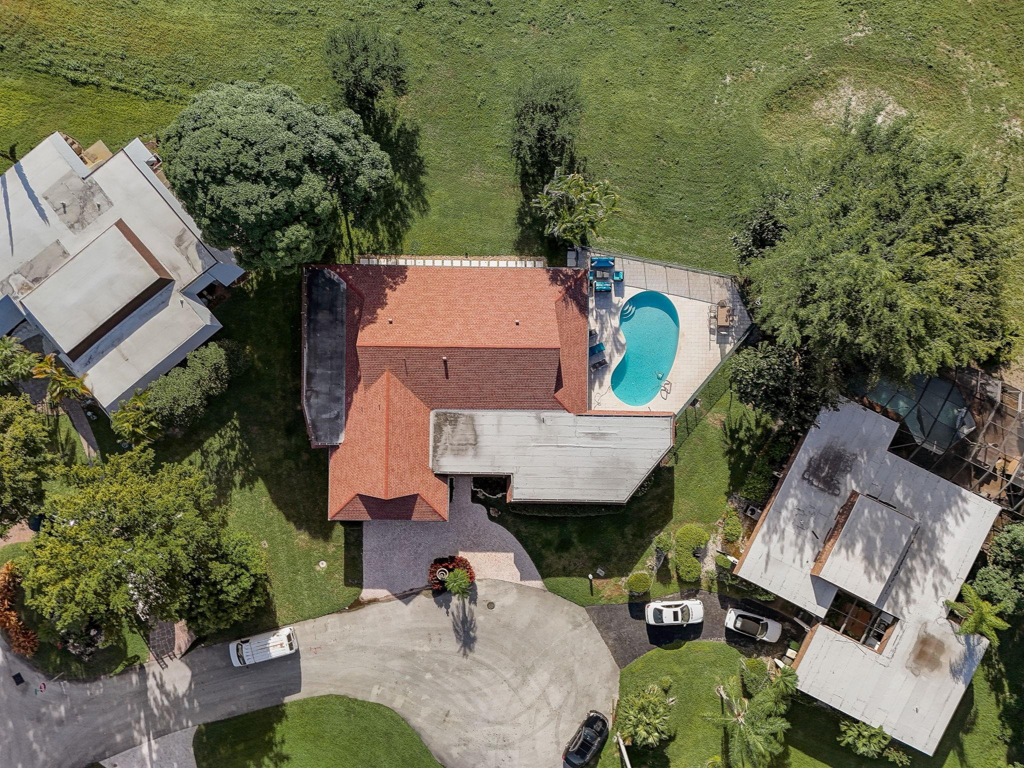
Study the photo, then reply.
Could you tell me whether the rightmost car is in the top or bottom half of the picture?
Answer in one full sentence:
Seen from above, the rightmost car lies in the bottom half of the view.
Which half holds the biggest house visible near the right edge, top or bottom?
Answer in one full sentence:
You can find the biggest house visible near the right edge in the bottom half.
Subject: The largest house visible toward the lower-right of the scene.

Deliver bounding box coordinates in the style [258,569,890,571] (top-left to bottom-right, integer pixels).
[732,395,1001,756]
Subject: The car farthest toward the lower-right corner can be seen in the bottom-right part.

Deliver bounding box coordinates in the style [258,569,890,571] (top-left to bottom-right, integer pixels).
[724,605,782,644]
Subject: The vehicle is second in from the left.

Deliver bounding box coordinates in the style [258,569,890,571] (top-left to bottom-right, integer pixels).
[562,709,607,768]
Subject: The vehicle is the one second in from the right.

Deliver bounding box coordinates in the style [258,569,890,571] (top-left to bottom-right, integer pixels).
[644,599,703,628]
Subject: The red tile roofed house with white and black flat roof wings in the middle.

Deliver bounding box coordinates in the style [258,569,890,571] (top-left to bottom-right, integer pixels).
[301,266,676,522]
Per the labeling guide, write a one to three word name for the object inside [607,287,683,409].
swimming pool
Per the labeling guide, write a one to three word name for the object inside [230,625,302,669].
van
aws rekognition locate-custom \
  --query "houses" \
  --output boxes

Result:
[301,266,676,522]
[0,132,238,422]
[732,395,1001,756]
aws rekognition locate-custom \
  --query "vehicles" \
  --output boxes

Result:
[724,605,782,644]
[562,709,607,768]
[230,625,302,669]
[644,599,703,628]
